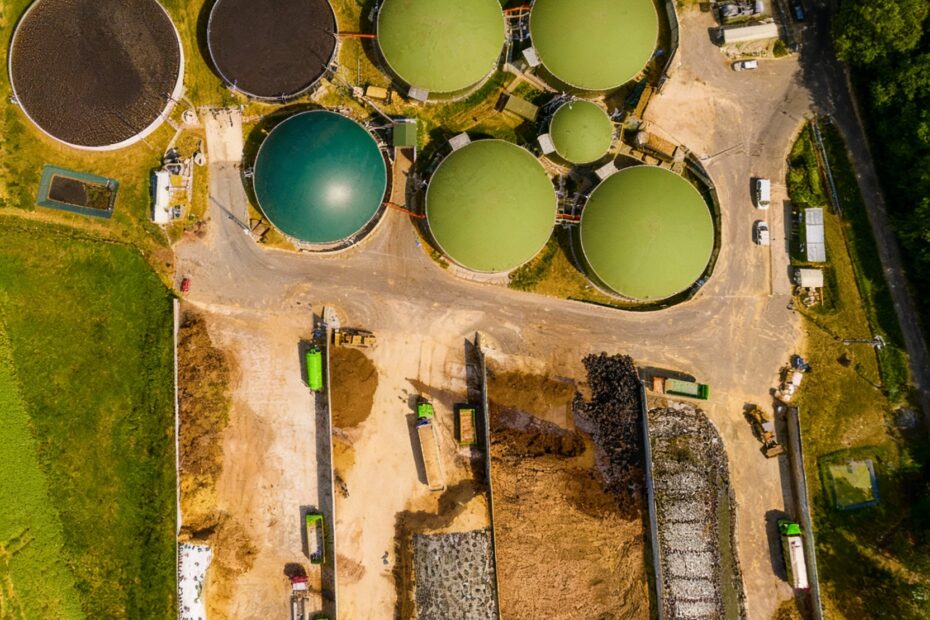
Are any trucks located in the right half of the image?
Yes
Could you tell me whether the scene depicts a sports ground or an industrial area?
industrial area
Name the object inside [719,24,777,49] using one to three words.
shed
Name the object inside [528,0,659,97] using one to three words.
storage tank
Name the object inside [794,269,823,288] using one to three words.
shed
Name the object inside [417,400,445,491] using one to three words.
truck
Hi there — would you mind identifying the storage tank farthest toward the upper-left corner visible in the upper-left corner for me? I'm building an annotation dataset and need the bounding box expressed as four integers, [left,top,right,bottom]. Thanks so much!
[8,0,186,152]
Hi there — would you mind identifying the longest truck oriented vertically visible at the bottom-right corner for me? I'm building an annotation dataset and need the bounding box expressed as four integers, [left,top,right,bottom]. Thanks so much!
[775,516,806,595]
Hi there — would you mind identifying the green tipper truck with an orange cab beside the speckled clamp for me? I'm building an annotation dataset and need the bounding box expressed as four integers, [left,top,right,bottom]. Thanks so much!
[646,375,710,398]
